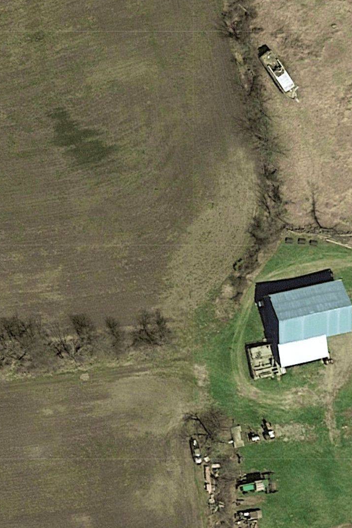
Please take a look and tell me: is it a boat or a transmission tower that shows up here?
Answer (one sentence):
I can see a boat in this picture.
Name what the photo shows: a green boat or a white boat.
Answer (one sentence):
I can see a white boat in this picture.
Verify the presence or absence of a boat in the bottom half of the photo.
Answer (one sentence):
No, in the bottom half of the photo there is no boat.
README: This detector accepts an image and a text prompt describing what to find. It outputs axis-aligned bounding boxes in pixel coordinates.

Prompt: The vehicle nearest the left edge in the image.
[190,439,202,465]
